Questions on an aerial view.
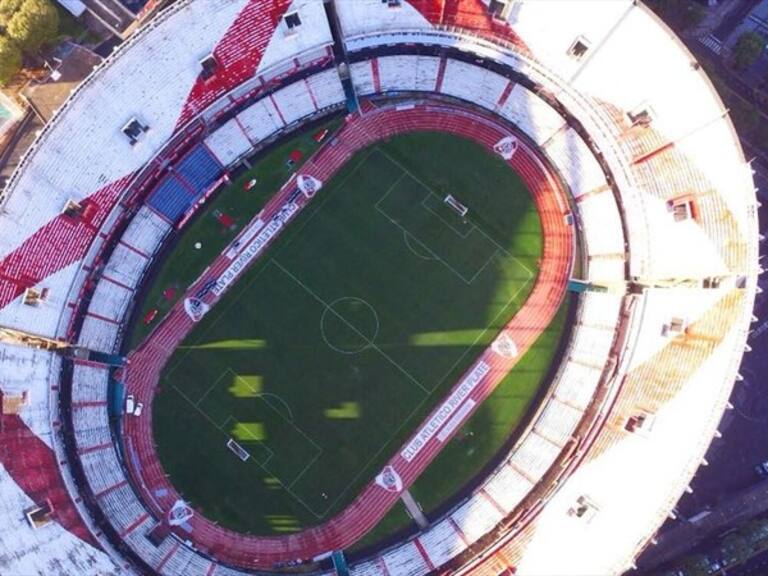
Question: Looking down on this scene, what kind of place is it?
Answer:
sports ground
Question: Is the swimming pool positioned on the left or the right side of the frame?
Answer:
left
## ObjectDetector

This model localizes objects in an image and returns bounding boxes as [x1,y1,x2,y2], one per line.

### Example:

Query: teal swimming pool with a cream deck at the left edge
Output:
[0,91,23,135]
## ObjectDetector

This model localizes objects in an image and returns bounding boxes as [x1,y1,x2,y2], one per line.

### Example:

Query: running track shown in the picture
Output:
[121,104,573,569]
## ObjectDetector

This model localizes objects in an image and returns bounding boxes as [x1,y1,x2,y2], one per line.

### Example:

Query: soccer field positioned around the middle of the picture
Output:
[155,134,539,532]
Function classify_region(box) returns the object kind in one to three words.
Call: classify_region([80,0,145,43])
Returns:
house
